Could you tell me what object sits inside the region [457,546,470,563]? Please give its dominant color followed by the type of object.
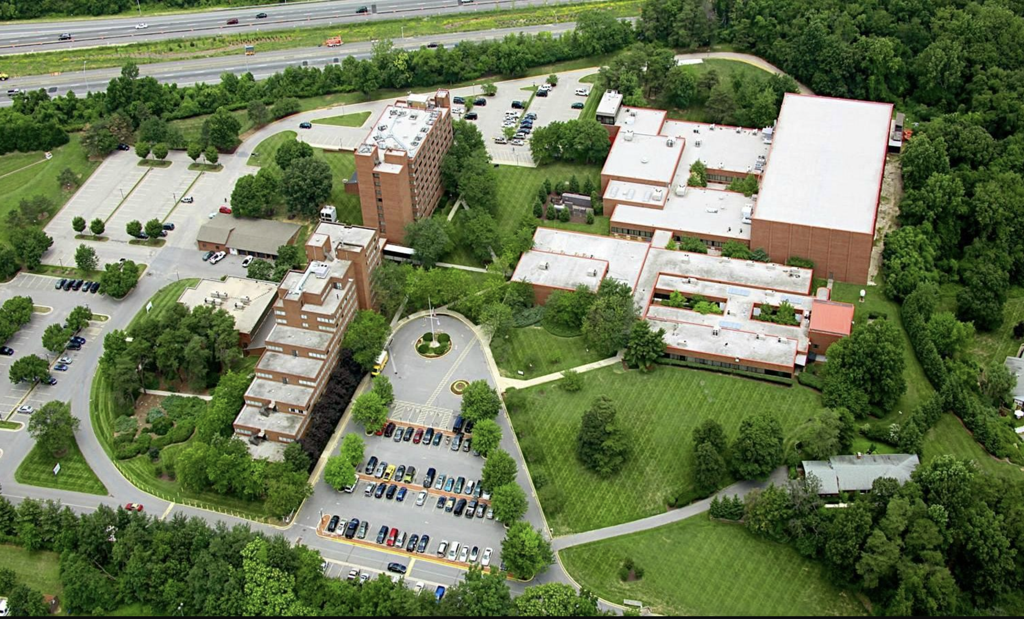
white vehicle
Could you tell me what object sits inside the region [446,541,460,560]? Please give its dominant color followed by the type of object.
white car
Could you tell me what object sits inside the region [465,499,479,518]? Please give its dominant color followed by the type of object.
gray vehicle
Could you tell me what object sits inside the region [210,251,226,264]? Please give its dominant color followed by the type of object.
white vehicle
